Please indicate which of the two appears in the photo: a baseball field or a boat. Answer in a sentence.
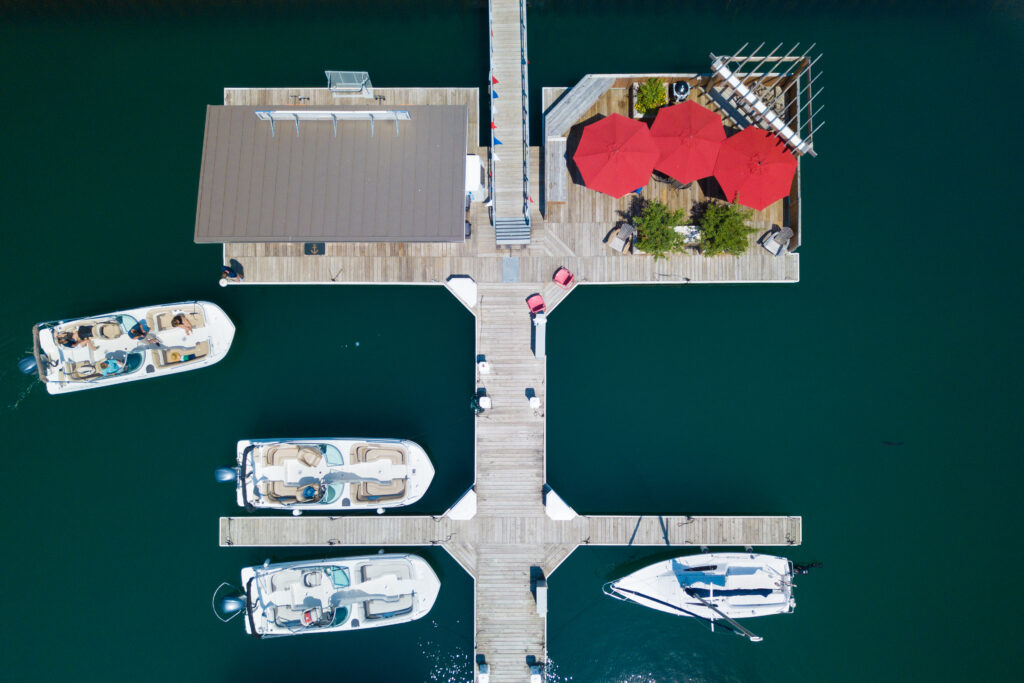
Of the two, only a boat appears.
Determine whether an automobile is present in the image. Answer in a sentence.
No, I can see no automobile in this picture.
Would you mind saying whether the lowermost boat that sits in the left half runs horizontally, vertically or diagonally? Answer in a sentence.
In this picture, the lowermost boat that sits in the left half lies horizontally.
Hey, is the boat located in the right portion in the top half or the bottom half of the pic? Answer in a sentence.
The boat located in the right portion sits in the bottom half of the picture.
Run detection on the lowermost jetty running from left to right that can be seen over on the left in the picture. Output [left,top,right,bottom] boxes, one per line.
[219,486,476,579]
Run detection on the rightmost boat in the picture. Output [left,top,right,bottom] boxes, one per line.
[602,552,823,642]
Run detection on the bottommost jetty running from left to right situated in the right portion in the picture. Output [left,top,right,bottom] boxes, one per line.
[545,485,802,578]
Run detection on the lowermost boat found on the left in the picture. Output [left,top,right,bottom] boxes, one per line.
[219,551,440,638]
